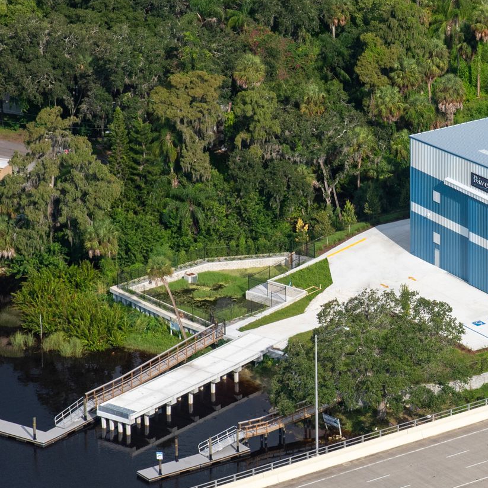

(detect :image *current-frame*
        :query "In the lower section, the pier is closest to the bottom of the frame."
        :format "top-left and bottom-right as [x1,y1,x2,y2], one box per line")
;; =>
[137,442,251,486]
